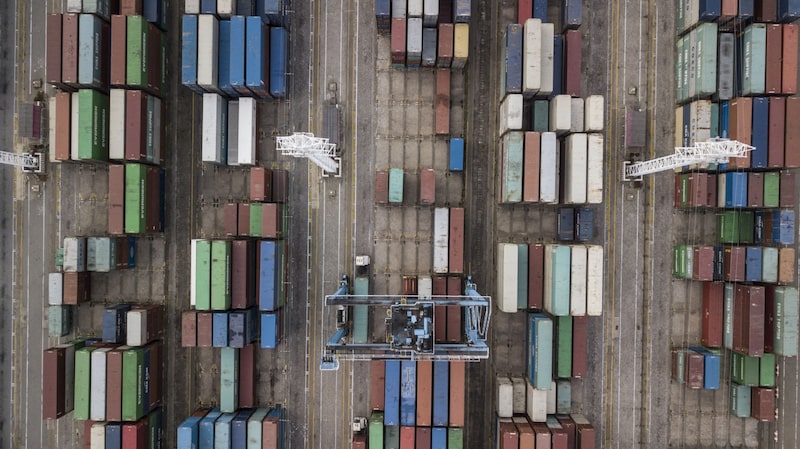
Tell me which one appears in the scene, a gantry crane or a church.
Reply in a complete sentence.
This aerial view contains a gantry crane.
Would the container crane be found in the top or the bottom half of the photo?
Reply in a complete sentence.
The container crane sits in the bottom half of the picture.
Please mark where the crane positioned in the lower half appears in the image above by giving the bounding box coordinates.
[319,270,495,372]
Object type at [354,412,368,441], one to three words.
vehicle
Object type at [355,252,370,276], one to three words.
vehicle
